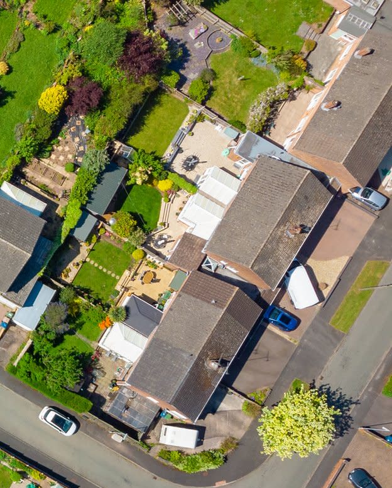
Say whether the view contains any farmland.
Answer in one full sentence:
No, there is no farmland in the image.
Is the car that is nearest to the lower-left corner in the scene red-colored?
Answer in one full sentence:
No, the car that is nearest to the lower-left corner is white.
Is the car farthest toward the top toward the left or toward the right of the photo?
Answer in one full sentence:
It is on the right.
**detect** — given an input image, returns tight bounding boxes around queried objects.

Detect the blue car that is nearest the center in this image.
[261,305,303,333]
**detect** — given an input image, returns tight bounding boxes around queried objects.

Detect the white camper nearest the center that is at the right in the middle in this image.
[277,265,320,312]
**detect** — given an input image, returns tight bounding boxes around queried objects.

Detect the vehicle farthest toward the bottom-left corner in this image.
[38,407,79,439]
